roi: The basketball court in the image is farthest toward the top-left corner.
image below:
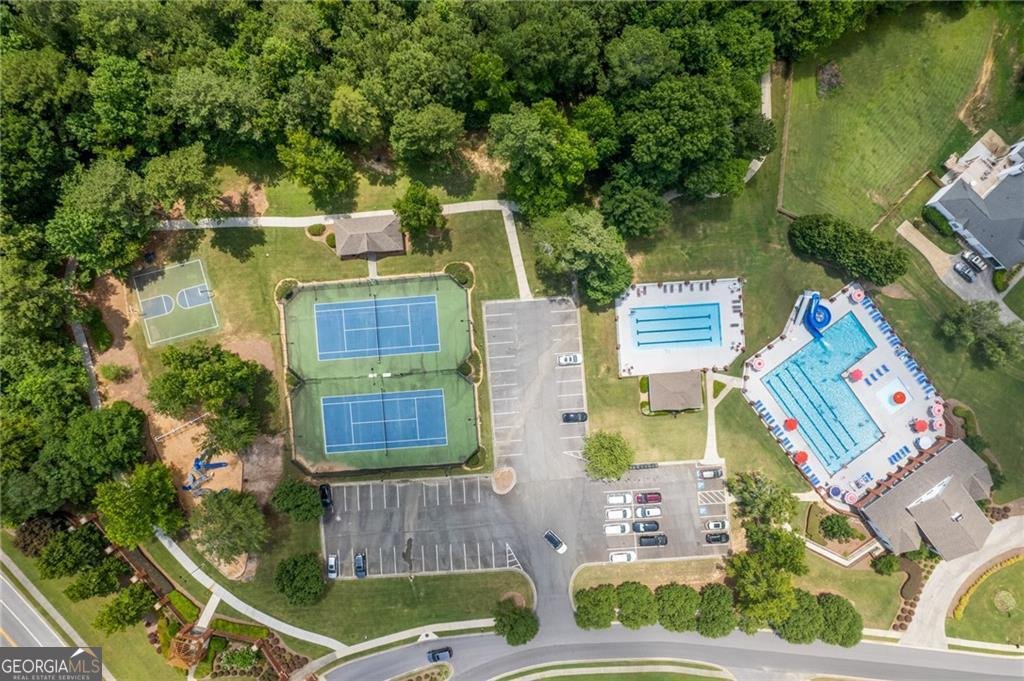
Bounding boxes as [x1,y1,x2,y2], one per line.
[130,256,223,348]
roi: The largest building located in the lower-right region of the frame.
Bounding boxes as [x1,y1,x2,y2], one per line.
[854,439,993,561]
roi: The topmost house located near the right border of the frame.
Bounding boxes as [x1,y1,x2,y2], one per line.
[929,163,1024,268]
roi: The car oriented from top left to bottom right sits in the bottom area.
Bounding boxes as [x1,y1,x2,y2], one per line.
[543,530,567,553]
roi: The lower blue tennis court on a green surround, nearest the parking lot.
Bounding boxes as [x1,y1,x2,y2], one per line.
[291,371,478,473]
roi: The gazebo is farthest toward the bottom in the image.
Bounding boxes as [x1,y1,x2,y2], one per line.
[177,612,225,660]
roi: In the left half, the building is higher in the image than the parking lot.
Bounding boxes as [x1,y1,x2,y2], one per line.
[334,215,404,256]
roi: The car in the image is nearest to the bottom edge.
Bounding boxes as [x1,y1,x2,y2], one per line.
[426,646,452,661]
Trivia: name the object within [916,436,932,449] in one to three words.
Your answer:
umbrella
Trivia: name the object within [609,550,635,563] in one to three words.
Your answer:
vehicle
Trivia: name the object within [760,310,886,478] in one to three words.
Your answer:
swimming pool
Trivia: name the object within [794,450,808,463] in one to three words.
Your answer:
umbrella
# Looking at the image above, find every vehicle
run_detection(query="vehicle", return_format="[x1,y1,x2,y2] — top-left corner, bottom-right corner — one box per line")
[327,554,338,578]
[635,506,661,519]
[633,520,659,532]
[426,646,452,661]
[543,530,567,553]
[638,534,667,547]
[705,532,729,544]
[704,519,729,530]
[562,411,587,423]
[954,261,978,282]
[354,552,366,577]
[609,550,635,563]
[635,492,662,504]
[606,507,632,519]
[607,493,633,505]
[604,522,630,535]
[961,251,988,274]
[698,467,723,479]
[320,483,333,508]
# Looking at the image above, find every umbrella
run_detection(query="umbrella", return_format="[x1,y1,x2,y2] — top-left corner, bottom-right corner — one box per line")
[912,419,928,432]
[929,404,944,416]
[849,369,862,381]
[828,485,841,497]
[930,419,945,431]
[753,358,765,369]
[916,436,932,449]
[783,418,797,431]
[794,450,808,463]
[843,491,857,505]
[850,289,864,301]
